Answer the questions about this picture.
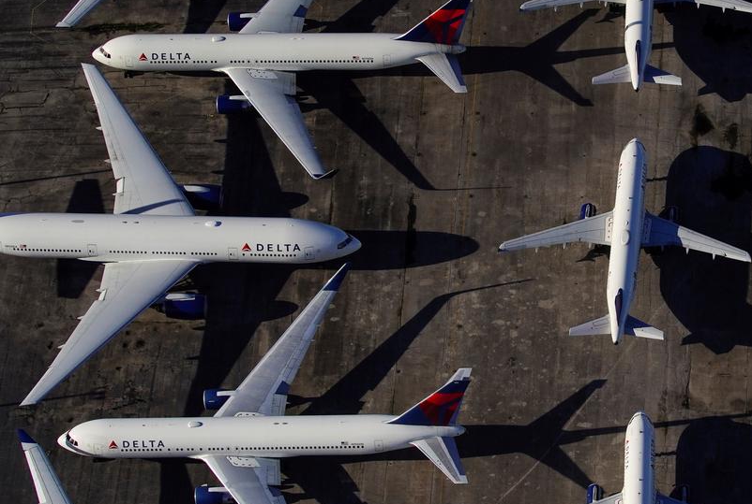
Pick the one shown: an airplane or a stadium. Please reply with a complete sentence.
Visible in the photo is an airplane.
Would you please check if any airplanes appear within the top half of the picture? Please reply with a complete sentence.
Yes, an airplane appears within the top half of the picture.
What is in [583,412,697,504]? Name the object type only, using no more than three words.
airplane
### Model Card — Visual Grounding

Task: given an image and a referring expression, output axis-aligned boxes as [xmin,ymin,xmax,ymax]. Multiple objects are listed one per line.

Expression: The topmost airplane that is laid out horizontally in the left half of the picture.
[93,0,470,181]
